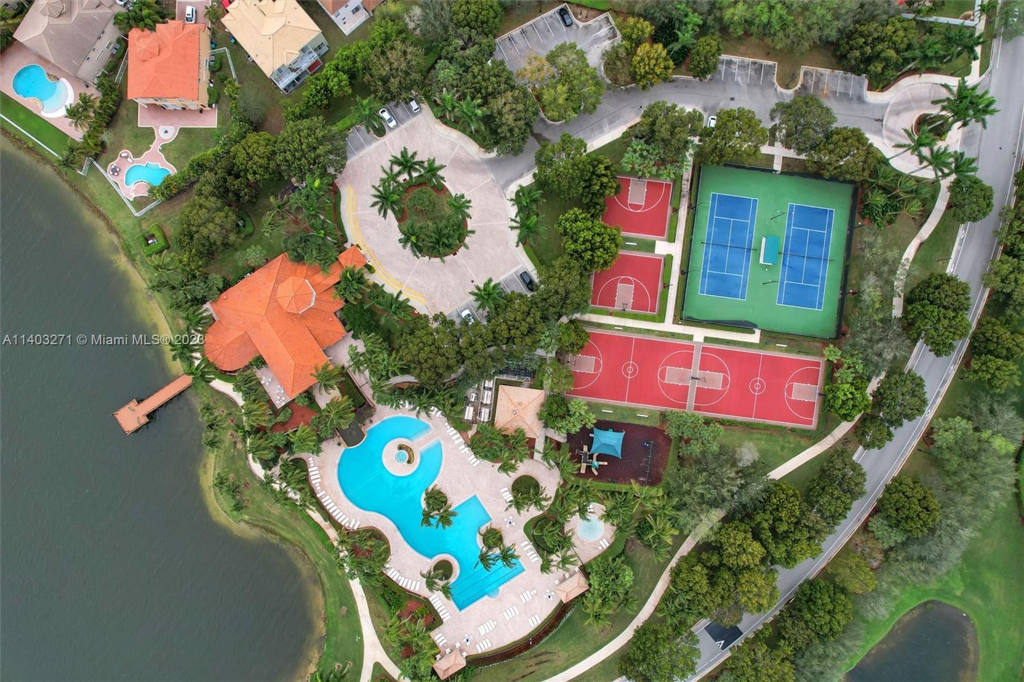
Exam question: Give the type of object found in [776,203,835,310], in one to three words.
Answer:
tennis court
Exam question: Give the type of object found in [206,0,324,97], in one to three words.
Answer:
house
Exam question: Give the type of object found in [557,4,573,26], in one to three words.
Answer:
car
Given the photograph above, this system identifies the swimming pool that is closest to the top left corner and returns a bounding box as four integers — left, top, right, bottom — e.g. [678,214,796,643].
[11,63,76,120]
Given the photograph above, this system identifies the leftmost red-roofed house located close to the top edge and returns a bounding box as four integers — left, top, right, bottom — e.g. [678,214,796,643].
[126,20,209,108]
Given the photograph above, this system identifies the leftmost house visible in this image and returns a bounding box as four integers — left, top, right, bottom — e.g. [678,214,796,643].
[12,0,133,80]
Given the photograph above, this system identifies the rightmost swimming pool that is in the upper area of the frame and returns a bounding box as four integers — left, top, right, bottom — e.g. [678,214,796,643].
[124,160,173,200]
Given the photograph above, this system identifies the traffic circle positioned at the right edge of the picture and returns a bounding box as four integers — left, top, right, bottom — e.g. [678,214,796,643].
[866,69,993,186]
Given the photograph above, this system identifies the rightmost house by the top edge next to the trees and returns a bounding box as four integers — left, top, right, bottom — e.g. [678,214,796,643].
[318,0,383,35]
